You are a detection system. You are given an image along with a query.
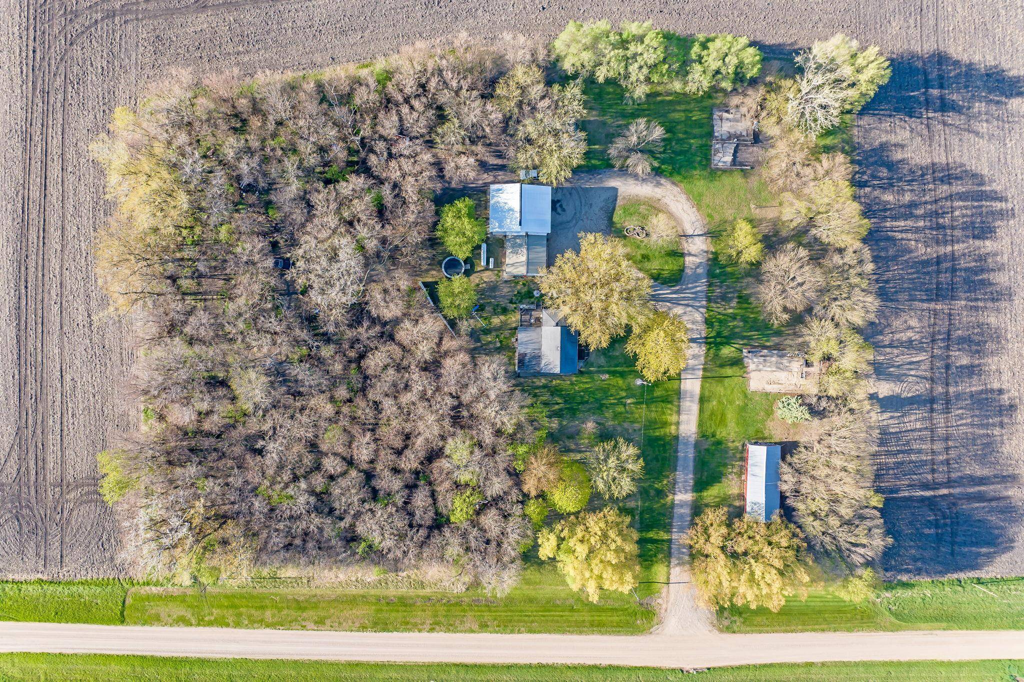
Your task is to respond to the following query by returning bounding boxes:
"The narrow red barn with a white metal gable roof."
[744,442,781,523]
